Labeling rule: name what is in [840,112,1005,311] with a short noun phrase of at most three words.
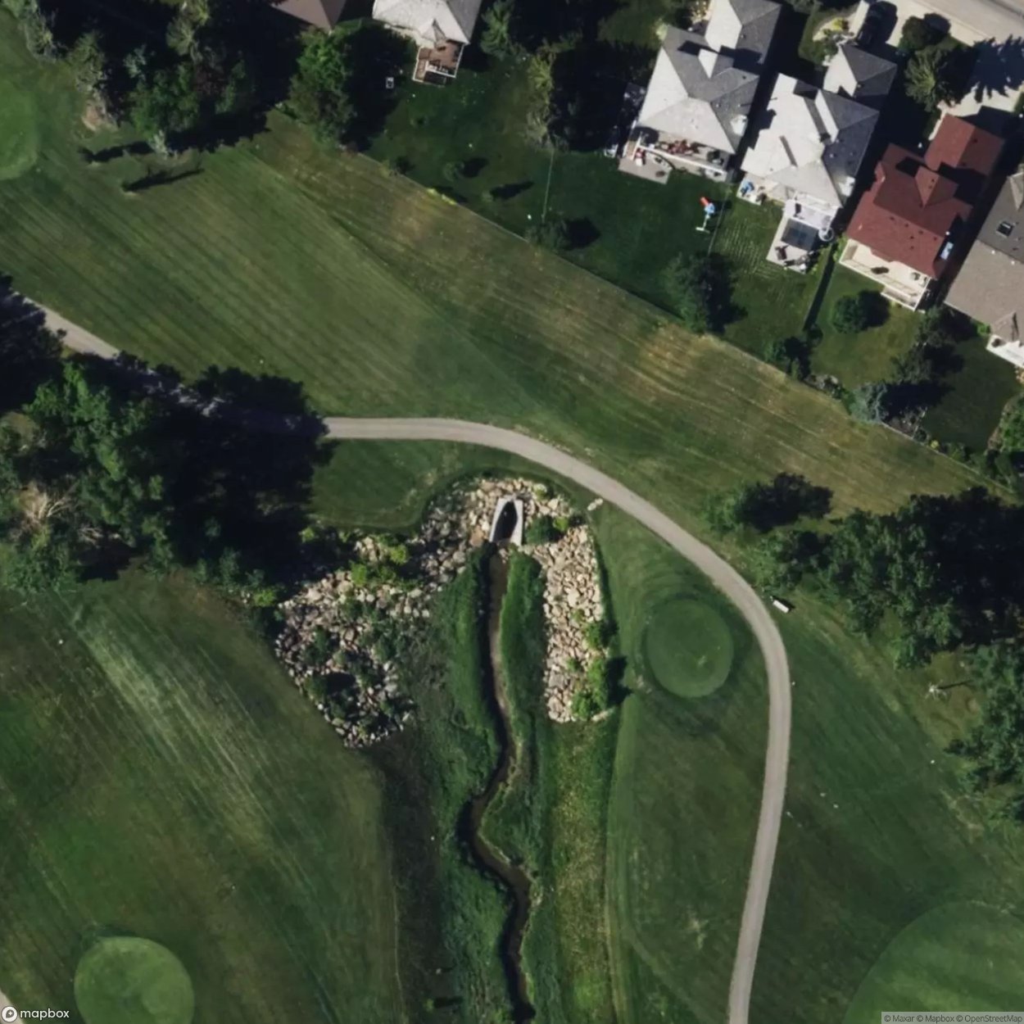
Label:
house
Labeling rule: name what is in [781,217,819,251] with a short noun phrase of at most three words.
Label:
gazebo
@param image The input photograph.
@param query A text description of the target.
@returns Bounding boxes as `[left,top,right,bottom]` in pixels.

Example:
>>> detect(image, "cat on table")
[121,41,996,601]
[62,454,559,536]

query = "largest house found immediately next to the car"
[741,42,898,232]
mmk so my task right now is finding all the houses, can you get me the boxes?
[741,42,898,232]
[372,0,480,82]
[268,0,343,29]
[624,0,782,173]
[946,167,1024,367]
[840,112,1005,311]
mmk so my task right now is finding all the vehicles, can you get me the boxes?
[858,1,884,42]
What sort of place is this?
golf course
